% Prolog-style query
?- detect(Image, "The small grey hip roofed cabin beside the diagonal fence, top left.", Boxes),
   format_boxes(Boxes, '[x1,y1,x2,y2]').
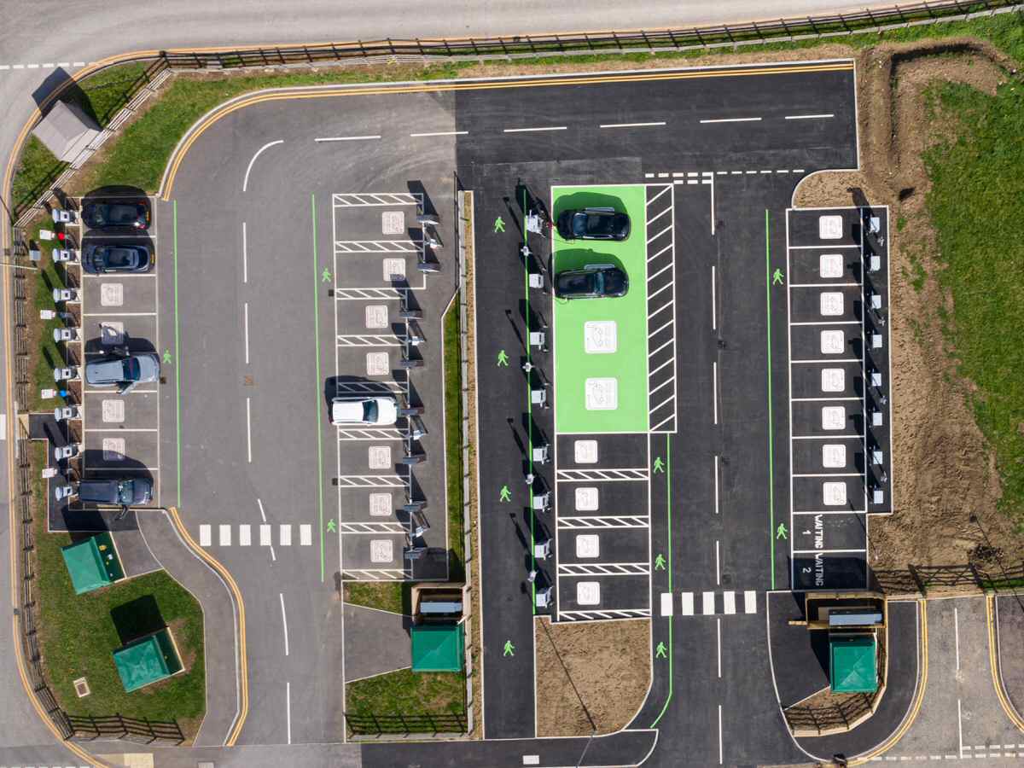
[31,100,106,164]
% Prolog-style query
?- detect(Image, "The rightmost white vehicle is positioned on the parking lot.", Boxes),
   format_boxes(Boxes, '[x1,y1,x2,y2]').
[330,394,398,429]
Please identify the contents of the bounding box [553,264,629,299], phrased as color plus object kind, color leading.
black car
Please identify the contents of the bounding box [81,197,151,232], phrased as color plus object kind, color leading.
black car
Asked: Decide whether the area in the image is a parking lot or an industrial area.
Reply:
parking lot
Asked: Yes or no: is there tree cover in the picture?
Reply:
No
